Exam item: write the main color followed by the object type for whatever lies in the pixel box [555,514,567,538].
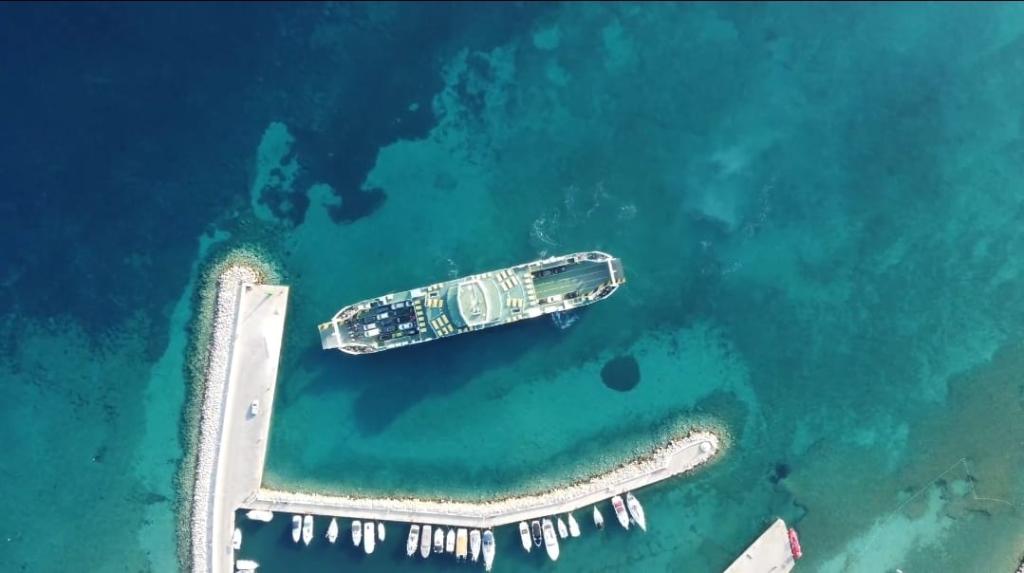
white boat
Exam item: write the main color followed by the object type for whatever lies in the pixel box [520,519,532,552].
white boat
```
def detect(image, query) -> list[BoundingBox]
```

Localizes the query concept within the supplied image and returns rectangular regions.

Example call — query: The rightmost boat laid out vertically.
[789,528,803,560]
